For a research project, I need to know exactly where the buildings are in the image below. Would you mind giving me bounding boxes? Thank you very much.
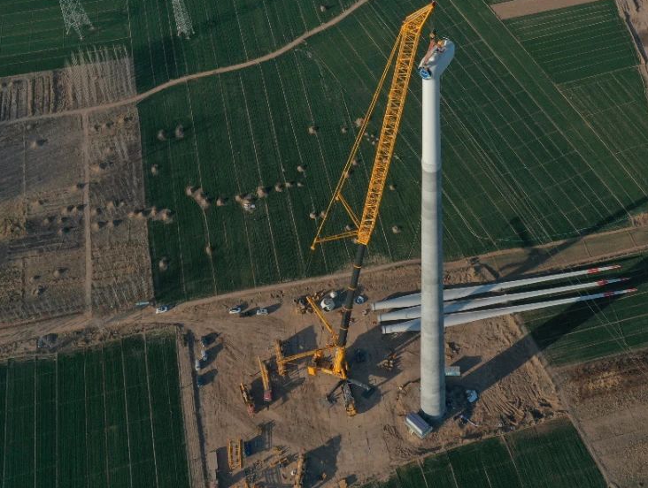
[404,412,432,442]
[444,363,464,377]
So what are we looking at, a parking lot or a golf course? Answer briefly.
parking lot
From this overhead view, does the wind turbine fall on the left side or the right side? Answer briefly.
right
